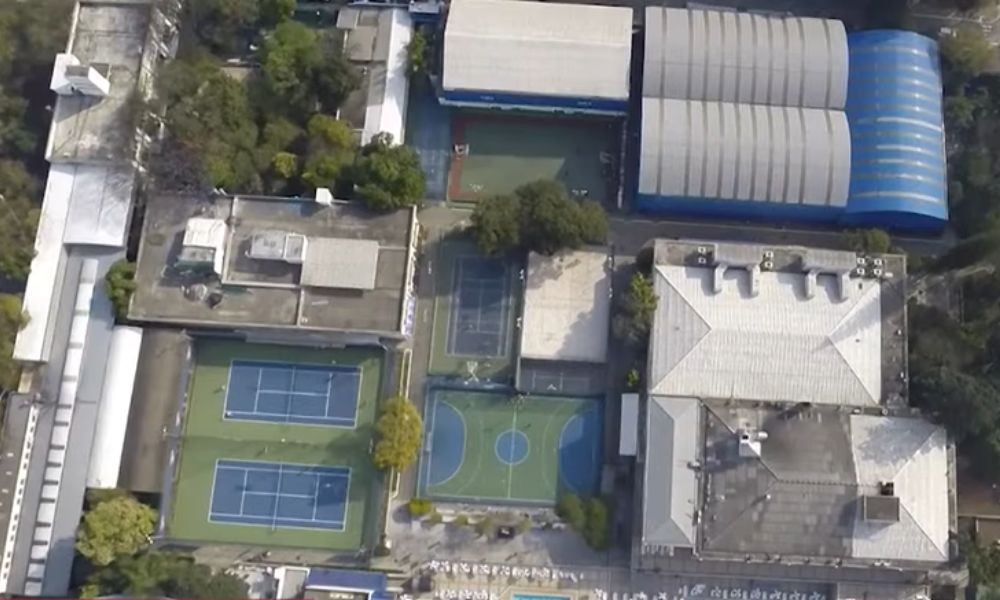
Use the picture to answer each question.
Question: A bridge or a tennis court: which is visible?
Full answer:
The one in the frame is a tennis court.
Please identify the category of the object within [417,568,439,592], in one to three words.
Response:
umbrella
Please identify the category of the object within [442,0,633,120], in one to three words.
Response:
building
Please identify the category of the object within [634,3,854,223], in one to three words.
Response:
building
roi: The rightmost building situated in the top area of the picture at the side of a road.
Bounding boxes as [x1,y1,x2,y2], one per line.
[833,29,949,232]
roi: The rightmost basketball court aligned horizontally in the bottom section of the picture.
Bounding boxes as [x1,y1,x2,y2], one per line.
[517,350,605,391]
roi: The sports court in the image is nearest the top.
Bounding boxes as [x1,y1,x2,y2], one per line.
[446,111,621,212]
